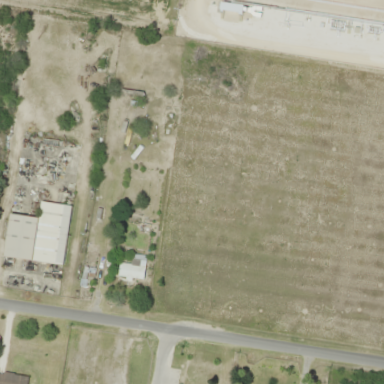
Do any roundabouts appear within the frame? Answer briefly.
No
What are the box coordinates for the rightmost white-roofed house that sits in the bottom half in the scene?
[118,254,147,282]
